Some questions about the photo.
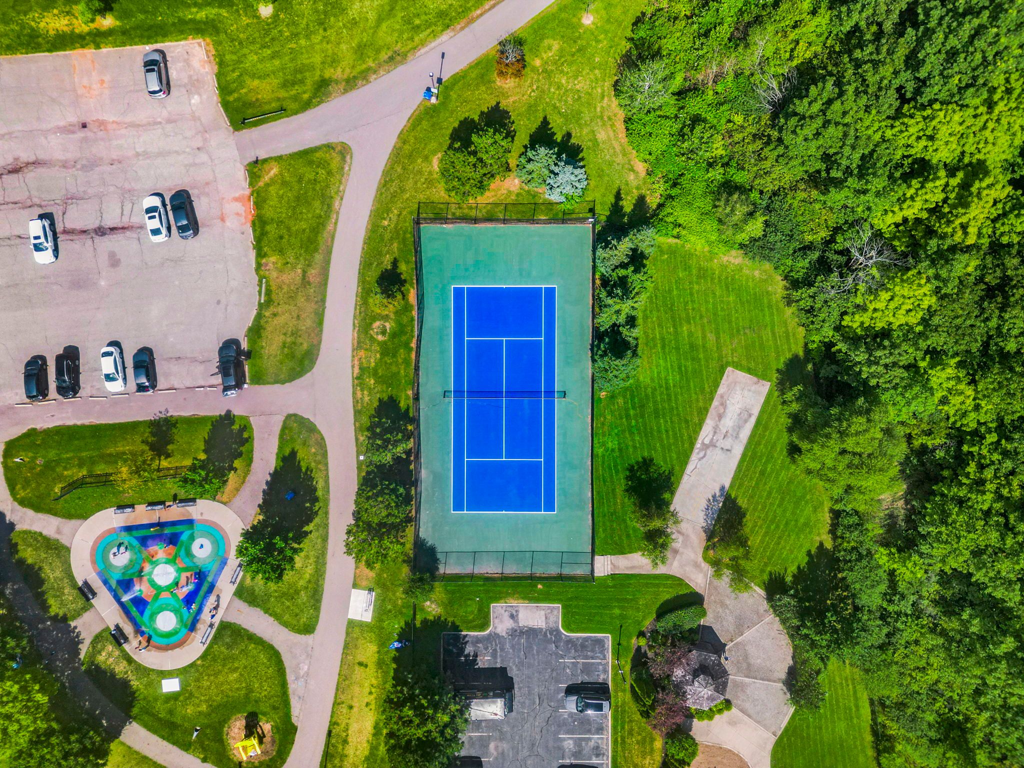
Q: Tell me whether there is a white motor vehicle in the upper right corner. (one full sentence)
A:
No, I see no white motor vehicle in the upper right corner.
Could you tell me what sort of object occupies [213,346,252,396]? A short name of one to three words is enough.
car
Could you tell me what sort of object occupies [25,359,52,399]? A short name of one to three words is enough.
car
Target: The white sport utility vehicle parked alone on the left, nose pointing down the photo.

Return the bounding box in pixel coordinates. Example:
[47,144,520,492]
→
[31,219,61,264]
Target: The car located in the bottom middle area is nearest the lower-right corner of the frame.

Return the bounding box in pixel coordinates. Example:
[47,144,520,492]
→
[564,689,610,714]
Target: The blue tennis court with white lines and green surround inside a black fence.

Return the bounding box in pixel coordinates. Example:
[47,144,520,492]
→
[420,223,594,574]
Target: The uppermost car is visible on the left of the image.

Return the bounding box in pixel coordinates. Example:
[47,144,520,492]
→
[144,54,171,100]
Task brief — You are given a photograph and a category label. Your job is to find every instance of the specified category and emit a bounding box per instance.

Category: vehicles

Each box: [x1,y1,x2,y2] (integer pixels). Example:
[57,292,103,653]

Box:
[564,689,610,714]
[31,219,61,264]
[449,687,516,720]
[146,197,174,244]
[105,346,131,392]
[135,351,160,393]
[144,54,171,100]
[55,353,83,397]
[213,346,252,396]
[25,359,52,399]
[173,194,200,240]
